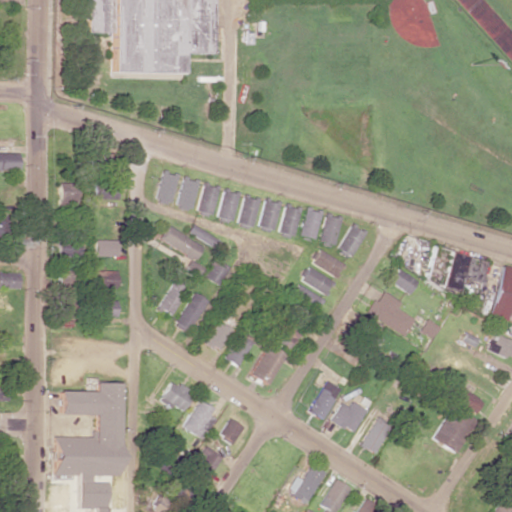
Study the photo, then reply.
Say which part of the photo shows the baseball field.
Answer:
top right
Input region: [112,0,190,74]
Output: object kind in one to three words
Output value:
building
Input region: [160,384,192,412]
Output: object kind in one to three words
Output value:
house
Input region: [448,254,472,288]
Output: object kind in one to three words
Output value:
shed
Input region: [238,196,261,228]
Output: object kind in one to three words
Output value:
house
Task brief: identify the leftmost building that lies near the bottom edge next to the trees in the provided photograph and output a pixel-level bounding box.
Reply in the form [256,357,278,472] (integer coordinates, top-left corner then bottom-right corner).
[52,382,131,512]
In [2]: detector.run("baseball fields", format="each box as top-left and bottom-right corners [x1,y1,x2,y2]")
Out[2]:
[389,0,440,48]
